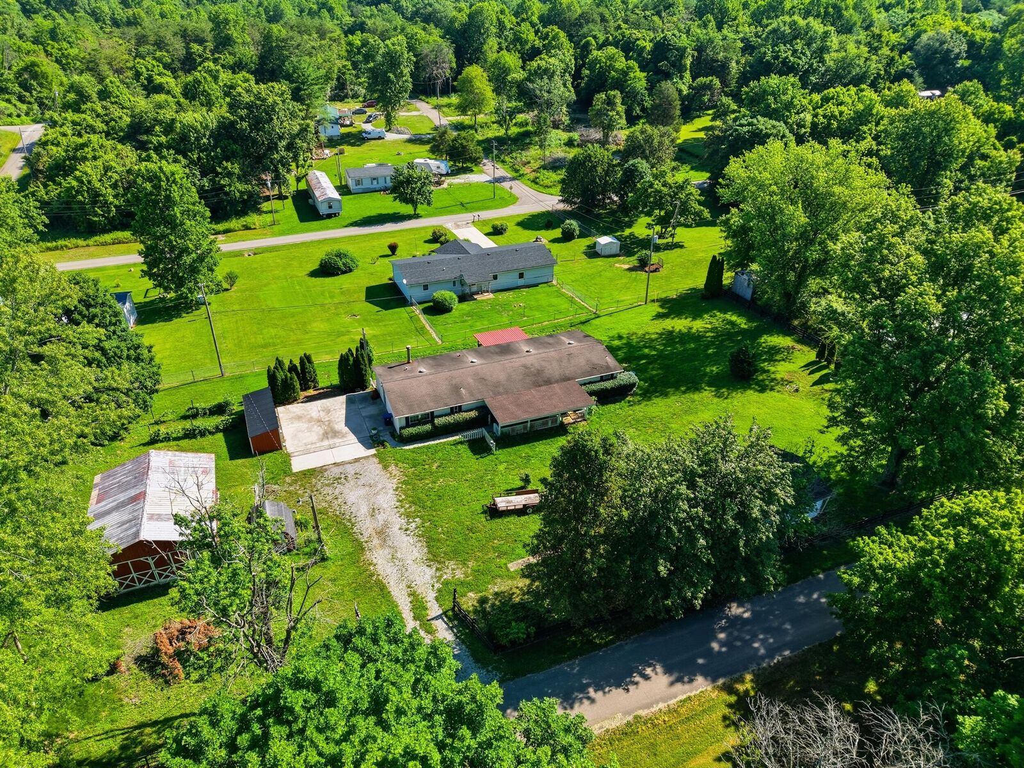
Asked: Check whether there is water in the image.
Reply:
No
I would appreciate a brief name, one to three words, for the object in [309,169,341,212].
house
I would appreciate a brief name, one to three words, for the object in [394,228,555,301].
house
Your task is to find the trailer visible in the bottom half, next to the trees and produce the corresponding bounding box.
[481,486,540,512]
